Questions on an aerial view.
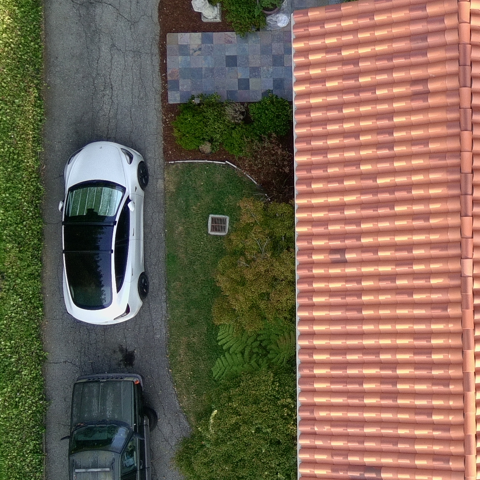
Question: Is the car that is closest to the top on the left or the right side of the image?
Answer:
left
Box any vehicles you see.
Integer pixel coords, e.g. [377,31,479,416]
[58,143,156,326]
[59,372,166,480]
